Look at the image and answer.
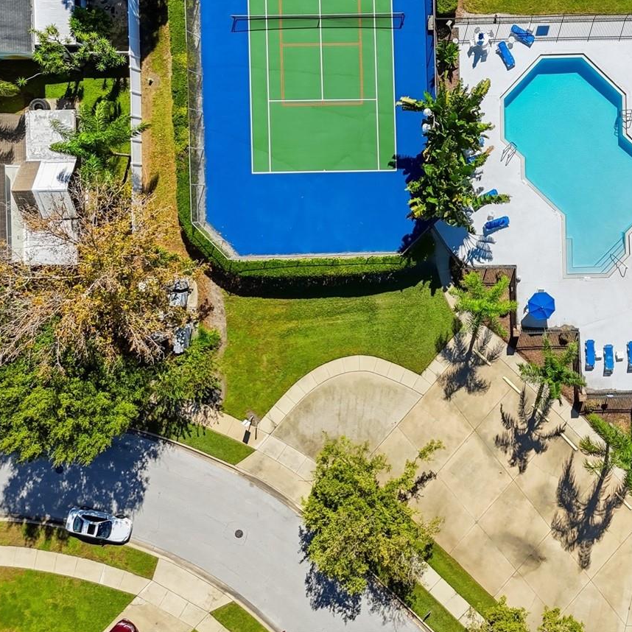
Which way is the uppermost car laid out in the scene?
from side to side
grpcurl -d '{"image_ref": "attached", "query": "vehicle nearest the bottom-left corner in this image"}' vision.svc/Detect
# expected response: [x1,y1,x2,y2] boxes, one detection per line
[102,616,137,632]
